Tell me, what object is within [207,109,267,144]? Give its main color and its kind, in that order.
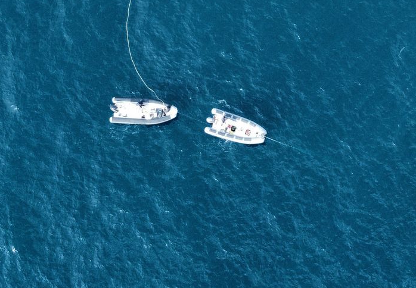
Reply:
white boat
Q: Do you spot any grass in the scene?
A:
No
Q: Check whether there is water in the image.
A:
Yes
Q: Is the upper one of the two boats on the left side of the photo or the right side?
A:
left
